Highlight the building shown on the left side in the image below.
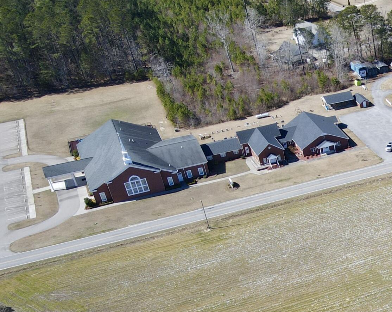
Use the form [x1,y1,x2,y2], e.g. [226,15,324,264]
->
[43,120,211,205]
